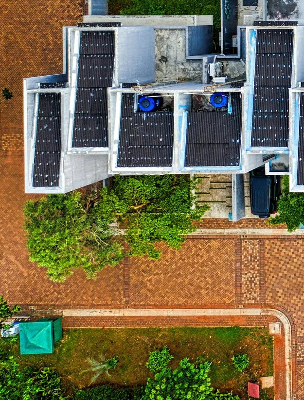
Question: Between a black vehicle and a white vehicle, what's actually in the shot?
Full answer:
I can see a black vehicle in this picture.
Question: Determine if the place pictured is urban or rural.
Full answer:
The area shown here is urban.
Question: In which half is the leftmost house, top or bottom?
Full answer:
It is in the top half that the leftmost house appears.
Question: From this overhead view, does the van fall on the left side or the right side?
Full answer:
The van is on the right side of the image.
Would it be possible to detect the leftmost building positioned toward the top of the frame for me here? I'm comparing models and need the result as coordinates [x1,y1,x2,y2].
[23,13,232,193]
